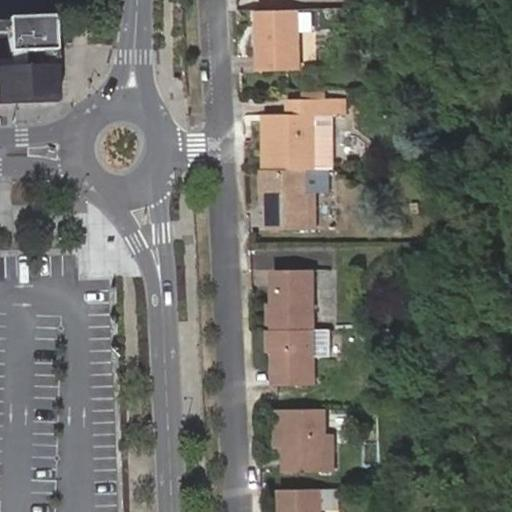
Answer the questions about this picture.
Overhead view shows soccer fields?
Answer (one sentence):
No, no soccer field can be seen from above.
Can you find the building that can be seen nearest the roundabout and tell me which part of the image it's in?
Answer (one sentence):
The building that can be seen nearest the roundabout sits in the top left section of the image.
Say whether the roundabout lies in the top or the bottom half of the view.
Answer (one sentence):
The top half of the photo is where the roundabout is.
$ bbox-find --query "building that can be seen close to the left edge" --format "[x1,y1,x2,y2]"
[0,0,63,103]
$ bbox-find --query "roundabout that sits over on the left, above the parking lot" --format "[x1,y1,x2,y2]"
[69,98,171,199]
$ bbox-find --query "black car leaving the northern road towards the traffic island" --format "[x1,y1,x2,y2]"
[102,77,118,99]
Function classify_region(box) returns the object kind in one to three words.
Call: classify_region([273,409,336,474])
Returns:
house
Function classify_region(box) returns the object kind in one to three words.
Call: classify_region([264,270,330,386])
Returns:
house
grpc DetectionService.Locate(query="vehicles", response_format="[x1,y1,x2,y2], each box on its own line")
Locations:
[35,350,56,360]
[18,256,29,284]
[248,468,259,489]
[102,77,118,99]
[85,292,104,302]
[199,60,210,81]
[34,410,55,420]
[29,503,50,512]
[33,469,54,480]
[252,372,268,384]
[40,257,50,276]
[163,282,174,304]
[94,483,115,494]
